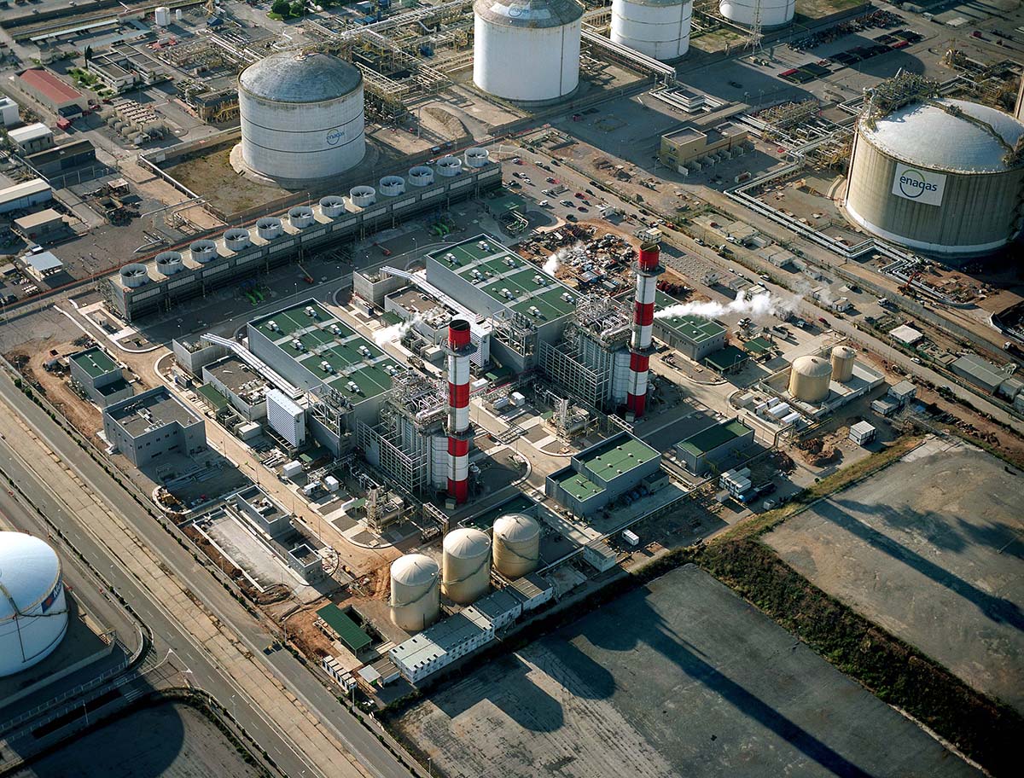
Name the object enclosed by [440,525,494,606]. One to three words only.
storage tank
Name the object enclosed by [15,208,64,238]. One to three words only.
building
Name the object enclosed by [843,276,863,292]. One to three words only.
vehicle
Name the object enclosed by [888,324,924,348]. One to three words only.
house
